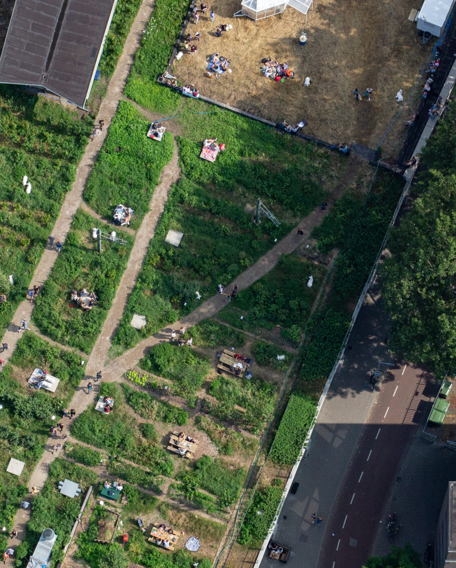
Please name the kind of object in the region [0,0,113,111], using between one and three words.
shed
